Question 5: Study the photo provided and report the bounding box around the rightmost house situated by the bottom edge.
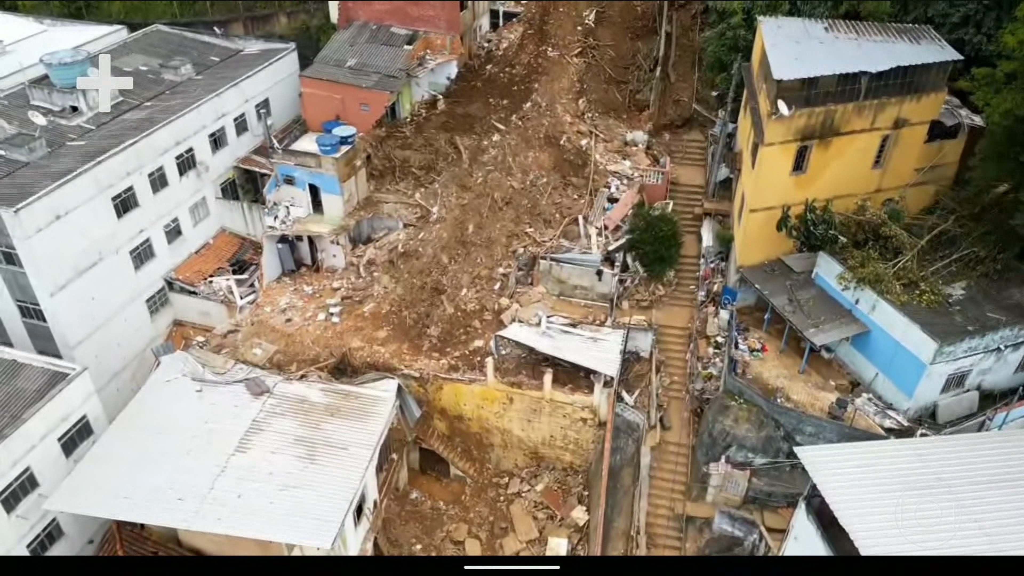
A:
[776,429,1024,576]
